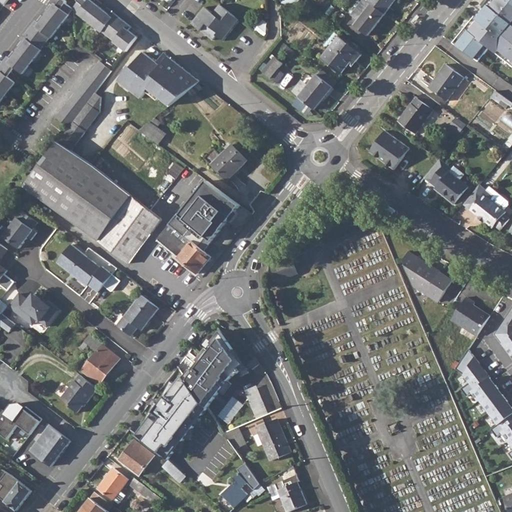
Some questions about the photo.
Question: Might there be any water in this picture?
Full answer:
No, water can't be seen anywhere here.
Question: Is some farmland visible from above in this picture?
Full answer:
No, the picture contains no farmland.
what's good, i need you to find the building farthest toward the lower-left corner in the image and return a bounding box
[0,469,32,511]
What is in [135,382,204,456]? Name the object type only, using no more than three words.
building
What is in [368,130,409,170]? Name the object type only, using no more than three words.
house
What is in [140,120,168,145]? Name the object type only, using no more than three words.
shed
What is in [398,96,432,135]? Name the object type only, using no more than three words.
house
